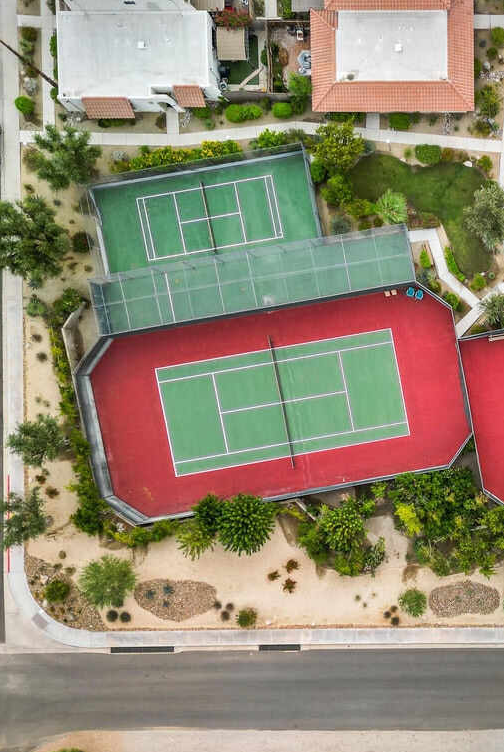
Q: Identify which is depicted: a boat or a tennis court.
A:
tennis court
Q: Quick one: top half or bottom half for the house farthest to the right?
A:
top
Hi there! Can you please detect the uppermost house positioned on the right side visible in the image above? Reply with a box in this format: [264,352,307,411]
[311,0,475,115]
